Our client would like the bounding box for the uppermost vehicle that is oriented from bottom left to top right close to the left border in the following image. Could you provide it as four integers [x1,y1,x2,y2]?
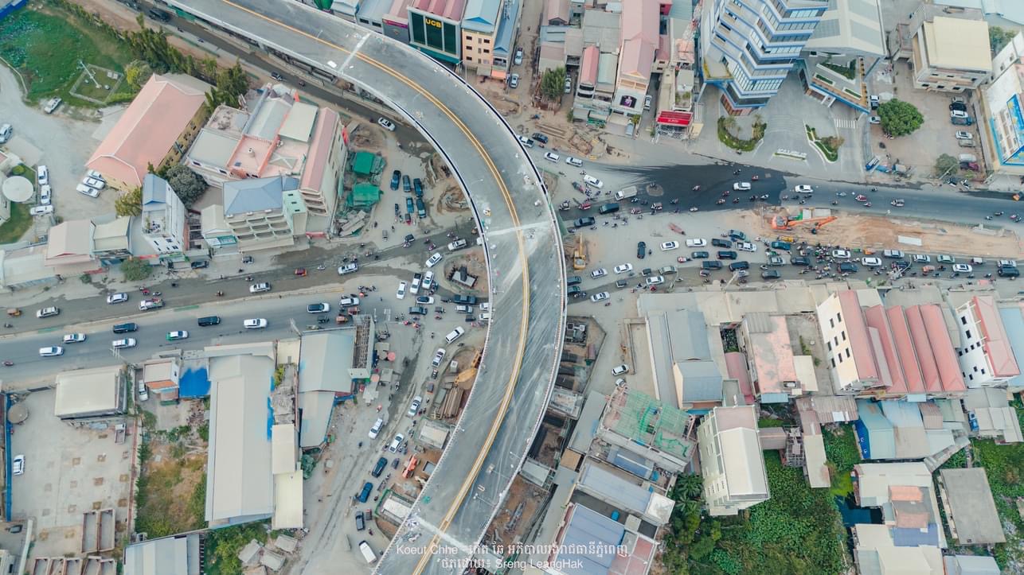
[43,97,64,114]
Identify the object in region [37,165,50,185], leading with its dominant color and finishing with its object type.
white vehicle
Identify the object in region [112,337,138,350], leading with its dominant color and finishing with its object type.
white vehicle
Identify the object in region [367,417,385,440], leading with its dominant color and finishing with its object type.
white car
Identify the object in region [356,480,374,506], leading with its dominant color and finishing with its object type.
blue vehicle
